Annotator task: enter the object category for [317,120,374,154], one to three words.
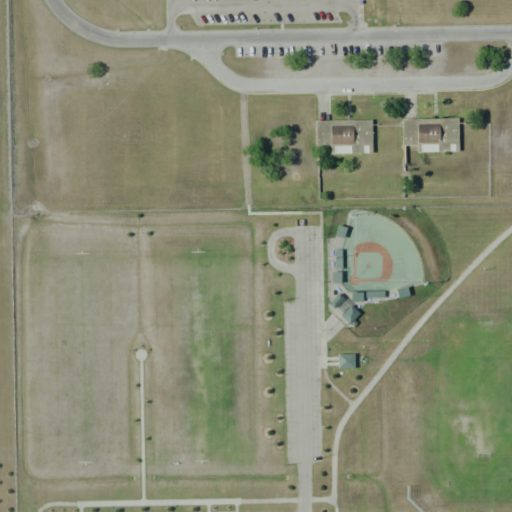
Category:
house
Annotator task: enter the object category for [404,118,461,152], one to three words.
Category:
house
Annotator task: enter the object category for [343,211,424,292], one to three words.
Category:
baseball field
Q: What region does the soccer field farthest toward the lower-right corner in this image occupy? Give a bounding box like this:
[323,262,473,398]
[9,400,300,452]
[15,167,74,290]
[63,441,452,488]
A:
[448,322,512,455]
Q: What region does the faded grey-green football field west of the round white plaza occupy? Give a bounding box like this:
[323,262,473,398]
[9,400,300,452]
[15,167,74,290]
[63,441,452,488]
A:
[36,240,128,469]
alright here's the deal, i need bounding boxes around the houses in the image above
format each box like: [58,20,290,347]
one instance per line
[404,118,461,152]
[317,120,374,154]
